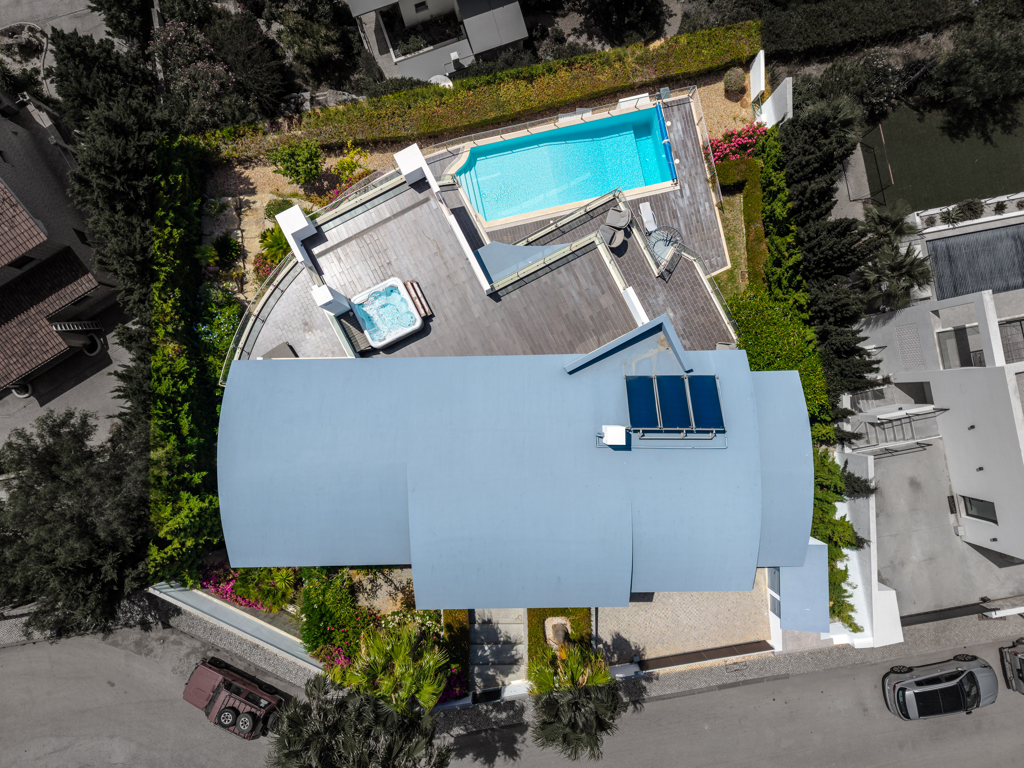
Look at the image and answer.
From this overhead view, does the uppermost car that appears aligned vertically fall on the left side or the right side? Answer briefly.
right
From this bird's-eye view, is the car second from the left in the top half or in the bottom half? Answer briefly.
bottom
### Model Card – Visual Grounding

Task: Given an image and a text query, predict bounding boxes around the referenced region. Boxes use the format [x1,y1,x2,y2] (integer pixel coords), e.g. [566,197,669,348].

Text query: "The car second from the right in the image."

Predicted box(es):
[880,652,998,721]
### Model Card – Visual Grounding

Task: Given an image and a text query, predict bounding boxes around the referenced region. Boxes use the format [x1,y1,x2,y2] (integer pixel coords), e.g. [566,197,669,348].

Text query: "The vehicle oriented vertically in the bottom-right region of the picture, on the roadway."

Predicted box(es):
[1001,636,1024,692]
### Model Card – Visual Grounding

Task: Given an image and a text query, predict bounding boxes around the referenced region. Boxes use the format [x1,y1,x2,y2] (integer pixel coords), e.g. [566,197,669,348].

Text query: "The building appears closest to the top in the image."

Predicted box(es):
[349,0,528,84]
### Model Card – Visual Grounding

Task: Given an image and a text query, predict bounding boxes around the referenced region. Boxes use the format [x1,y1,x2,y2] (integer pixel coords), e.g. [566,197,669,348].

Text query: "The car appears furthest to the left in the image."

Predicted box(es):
[180,654,284,743]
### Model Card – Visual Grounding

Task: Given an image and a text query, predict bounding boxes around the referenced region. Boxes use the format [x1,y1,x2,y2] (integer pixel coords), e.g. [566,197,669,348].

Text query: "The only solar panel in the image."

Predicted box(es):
[624,373,727,440]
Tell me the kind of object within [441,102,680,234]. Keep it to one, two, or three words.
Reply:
swimming pool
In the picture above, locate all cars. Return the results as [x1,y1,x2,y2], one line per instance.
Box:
[180,654,284,743]
[1001,636,1024,692]
[880,652,998,721]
